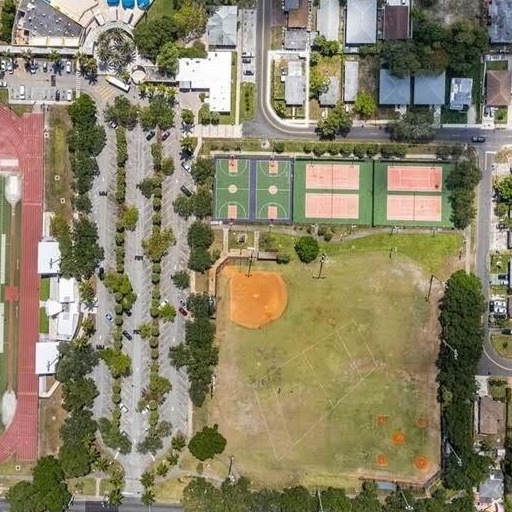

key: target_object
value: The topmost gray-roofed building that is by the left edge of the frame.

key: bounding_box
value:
[18,0,84,38]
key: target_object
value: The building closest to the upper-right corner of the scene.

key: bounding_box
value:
[487,0,512,43]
